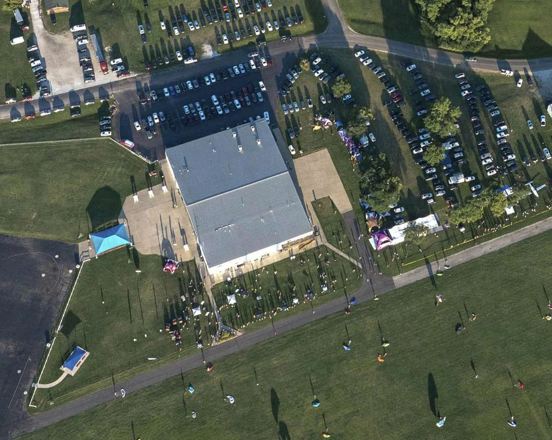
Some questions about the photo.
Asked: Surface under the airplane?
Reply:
grass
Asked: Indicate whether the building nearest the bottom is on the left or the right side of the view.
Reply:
left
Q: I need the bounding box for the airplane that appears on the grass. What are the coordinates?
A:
[525,178,547,199]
